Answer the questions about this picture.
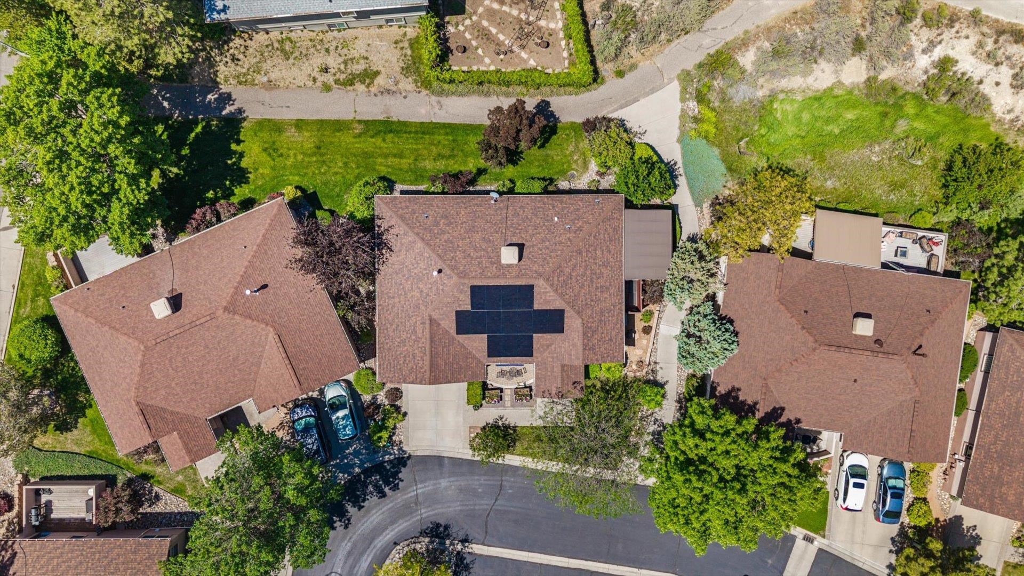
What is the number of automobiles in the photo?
4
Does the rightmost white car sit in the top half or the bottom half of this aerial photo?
bottom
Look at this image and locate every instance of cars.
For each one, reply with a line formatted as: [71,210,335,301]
[324,380,360,443]
[871,458,911,527]
[295,397,335,467]
[834,451,873,516]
